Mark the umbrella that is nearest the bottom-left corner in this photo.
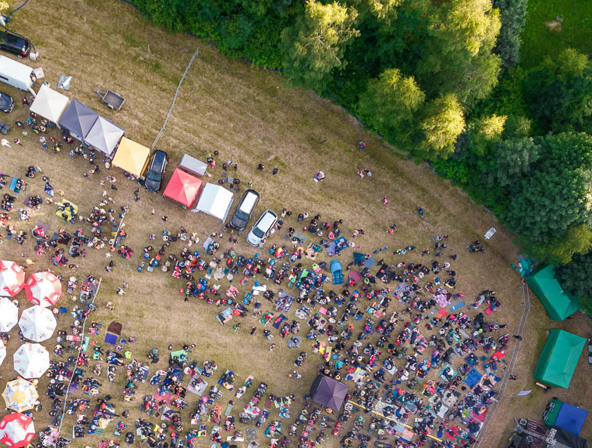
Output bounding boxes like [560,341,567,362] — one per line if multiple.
[0,412,34,448]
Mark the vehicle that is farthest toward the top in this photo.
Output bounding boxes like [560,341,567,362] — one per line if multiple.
[0,30,34,58]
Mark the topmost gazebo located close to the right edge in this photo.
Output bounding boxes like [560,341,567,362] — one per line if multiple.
[521,266,579,321]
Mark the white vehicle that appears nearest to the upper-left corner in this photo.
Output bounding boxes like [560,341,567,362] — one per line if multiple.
[0,59,50,98]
